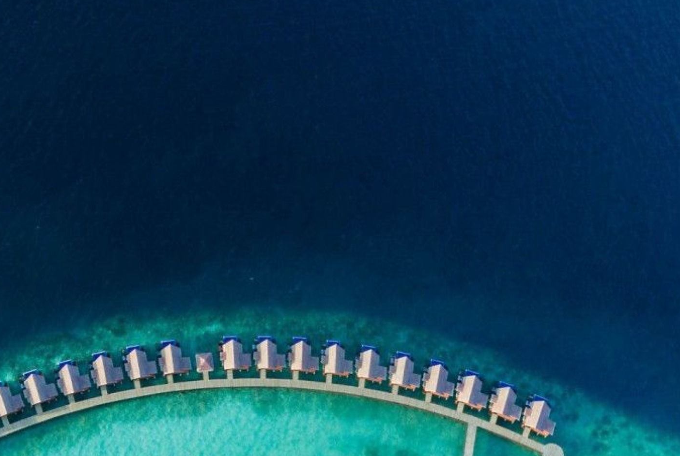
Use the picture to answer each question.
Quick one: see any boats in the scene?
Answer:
No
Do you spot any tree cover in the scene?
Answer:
No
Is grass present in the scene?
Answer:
No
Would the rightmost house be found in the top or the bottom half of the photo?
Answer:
bottom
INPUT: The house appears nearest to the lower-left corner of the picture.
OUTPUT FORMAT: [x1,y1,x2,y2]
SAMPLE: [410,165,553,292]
[0,379,27,416]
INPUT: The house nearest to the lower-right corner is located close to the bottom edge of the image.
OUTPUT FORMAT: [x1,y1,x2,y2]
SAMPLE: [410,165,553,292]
[519,395,553,434]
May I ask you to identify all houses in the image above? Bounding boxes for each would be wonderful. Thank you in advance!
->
[56,359,91,395]
[122,344,157,379]
[251,337,285,371]
[354,345,386,382]
[156,340,192,374]
[319,341,352,376]
[21,369,59,404]
[0,379,27,416]
[387,353,420,389]
[89,351,125,385]
[420,359,453,397]
[453,371,486,408]
[486,380,520,419]
[218,337,251,371]
[285,338,318,372]
[519,395,553,434]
